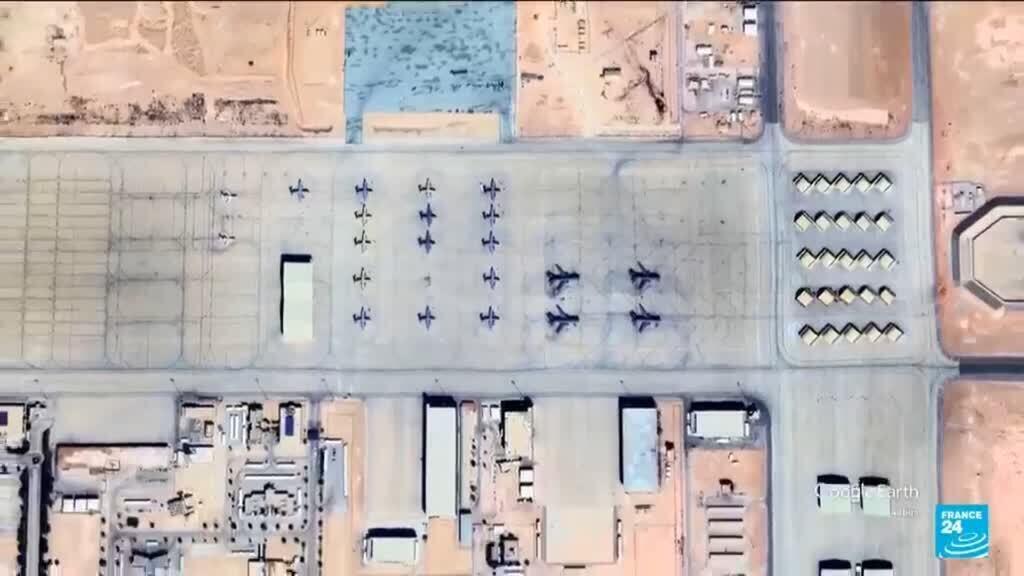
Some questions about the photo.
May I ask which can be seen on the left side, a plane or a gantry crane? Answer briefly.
plane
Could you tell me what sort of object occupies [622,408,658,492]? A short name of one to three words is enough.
hangar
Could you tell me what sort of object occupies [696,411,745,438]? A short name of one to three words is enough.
hangar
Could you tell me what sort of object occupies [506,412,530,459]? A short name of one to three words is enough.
building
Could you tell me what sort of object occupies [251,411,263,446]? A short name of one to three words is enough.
building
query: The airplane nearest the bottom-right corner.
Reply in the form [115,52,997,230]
[631,307,662,334]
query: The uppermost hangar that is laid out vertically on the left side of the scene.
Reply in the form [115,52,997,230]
[283,261,314,340]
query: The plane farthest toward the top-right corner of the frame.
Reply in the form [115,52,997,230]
[631,264,662,291]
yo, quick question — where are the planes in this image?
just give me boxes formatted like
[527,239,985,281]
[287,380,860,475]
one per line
[292,179,308,202]
[355,308,371,331]
[631,307,662,334]
[484,269,501,292]
[355,205,372,228]
[549,266,579,293]
[421,206,437,229]
[484,233,500,256]
[354,269,371,292]
[420,178,437,201]
[631,264,662,291]
[483,309,499,332]
[355,232,372,255]
[485,180,501,203]
[420,232,436,255]
[420,309,436,332]
[221,188,235,205]
[356,179,373,202]
[484,206,500,229]
[549,307,579,334]
[218,231,233,248]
